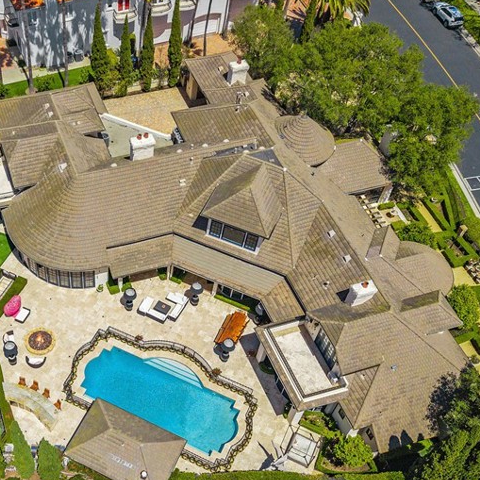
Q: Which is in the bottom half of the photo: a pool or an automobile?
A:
pool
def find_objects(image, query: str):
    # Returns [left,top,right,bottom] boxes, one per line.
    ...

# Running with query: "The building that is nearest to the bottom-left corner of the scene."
[62,396,188,480]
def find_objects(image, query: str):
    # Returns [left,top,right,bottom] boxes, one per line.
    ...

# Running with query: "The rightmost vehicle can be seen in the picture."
[435,1,466,27]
